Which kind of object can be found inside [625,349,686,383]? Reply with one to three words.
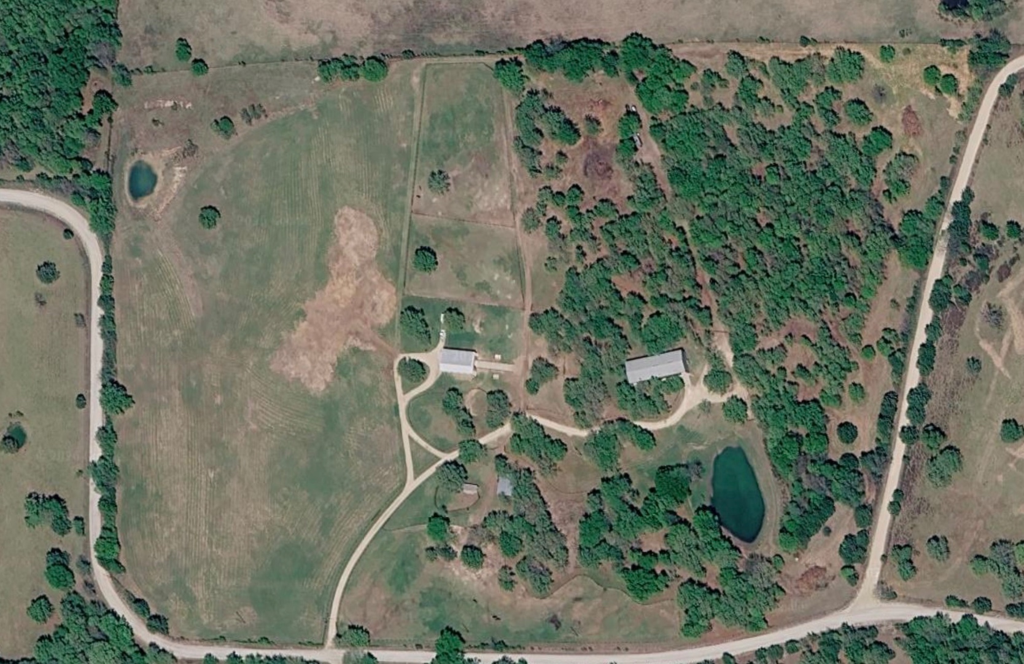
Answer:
building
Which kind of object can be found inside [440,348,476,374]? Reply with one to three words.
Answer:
house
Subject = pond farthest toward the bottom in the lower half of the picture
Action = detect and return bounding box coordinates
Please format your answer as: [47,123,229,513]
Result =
[712,447,765,541]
